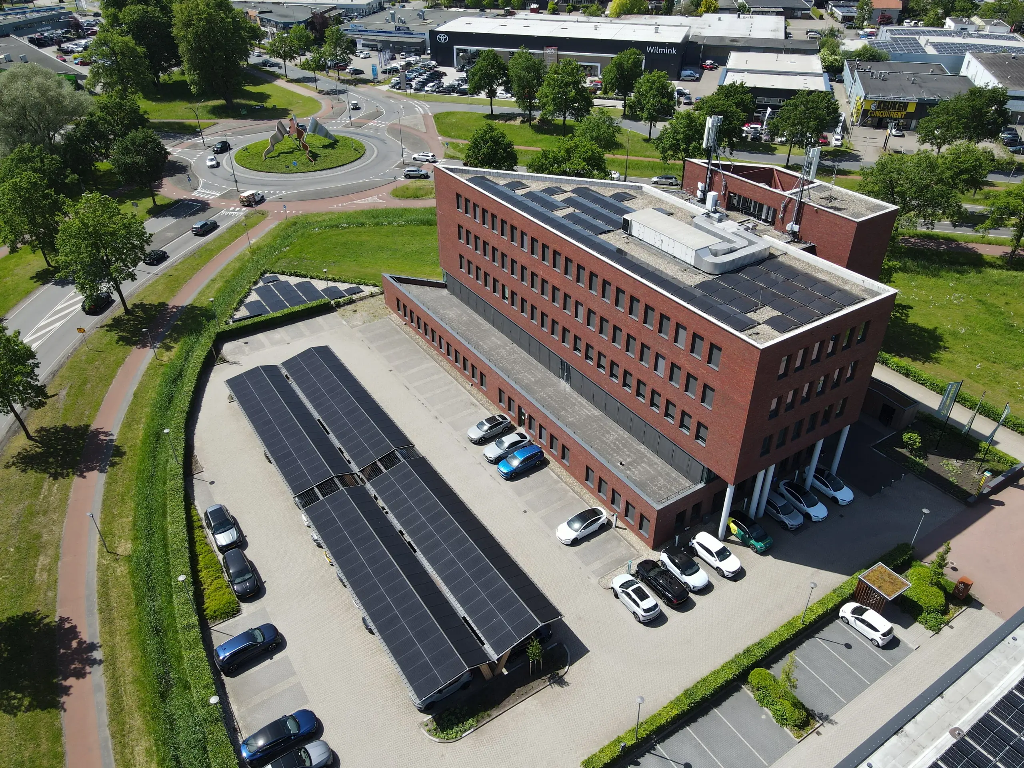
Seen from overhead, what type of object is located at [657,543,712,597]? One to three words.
car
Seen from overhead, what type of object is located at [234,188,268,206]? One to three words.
vehicle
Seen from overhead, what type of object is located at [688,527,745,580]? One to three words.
car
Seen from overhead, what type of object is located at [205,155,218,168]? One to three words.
vehicle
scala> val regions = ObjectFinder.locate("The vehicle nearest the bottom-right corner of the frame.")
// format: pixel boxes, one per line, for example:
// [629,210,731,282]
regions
[836,601,901,655]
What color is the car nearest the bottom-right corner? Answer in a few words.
white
